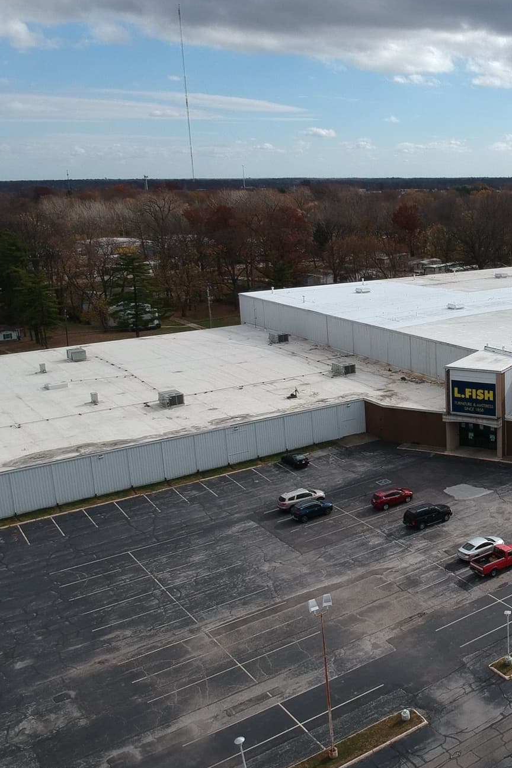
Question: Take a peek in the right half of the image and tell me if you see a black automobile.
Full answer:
Yes, a black automobile is visible in the right half of the image.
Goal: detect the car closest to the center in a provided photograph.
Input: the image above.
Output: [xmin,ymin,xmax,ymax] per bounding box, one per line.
[280,450,311,467]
